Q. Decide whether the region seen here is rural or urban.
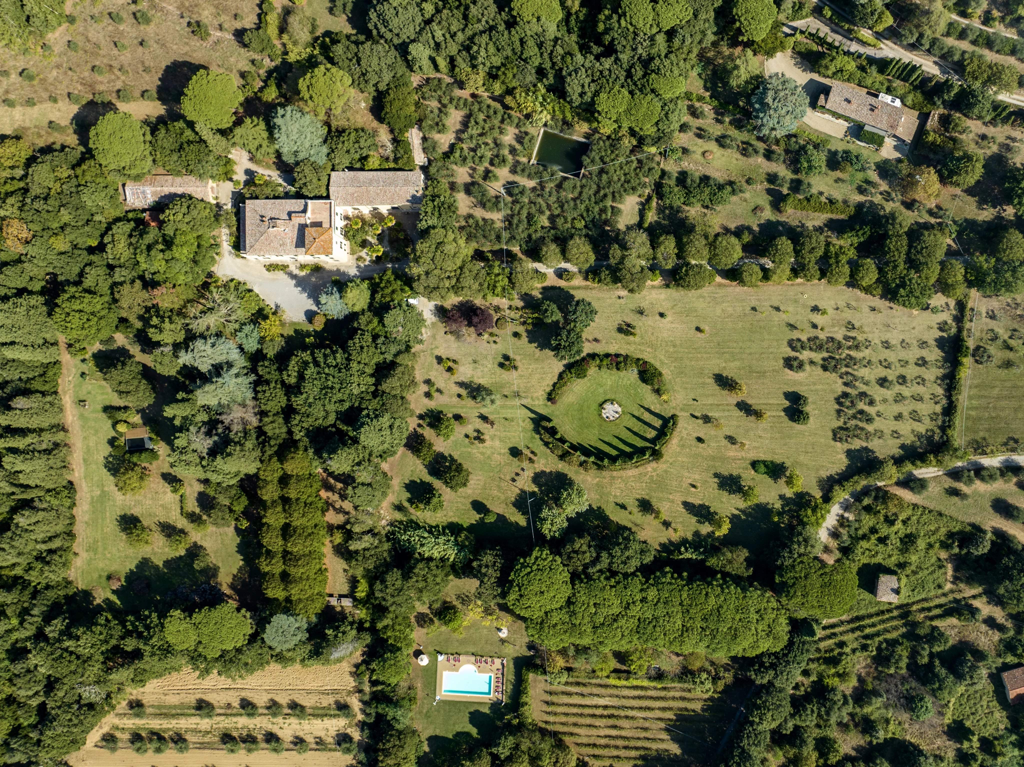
rural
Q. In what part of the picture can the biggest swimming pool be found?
bottom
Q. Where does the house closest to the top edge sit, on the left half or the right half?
right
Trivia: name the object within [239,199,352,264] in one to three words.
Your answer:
house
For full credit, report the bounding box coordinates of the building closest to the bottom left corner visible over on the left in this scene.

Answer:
[126,423,158,452]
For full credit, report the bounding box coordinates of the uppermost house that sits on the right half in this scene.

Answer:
[816,82,919,145]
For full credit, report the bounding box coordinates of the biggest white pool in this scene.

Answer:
[437,653,507,705]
